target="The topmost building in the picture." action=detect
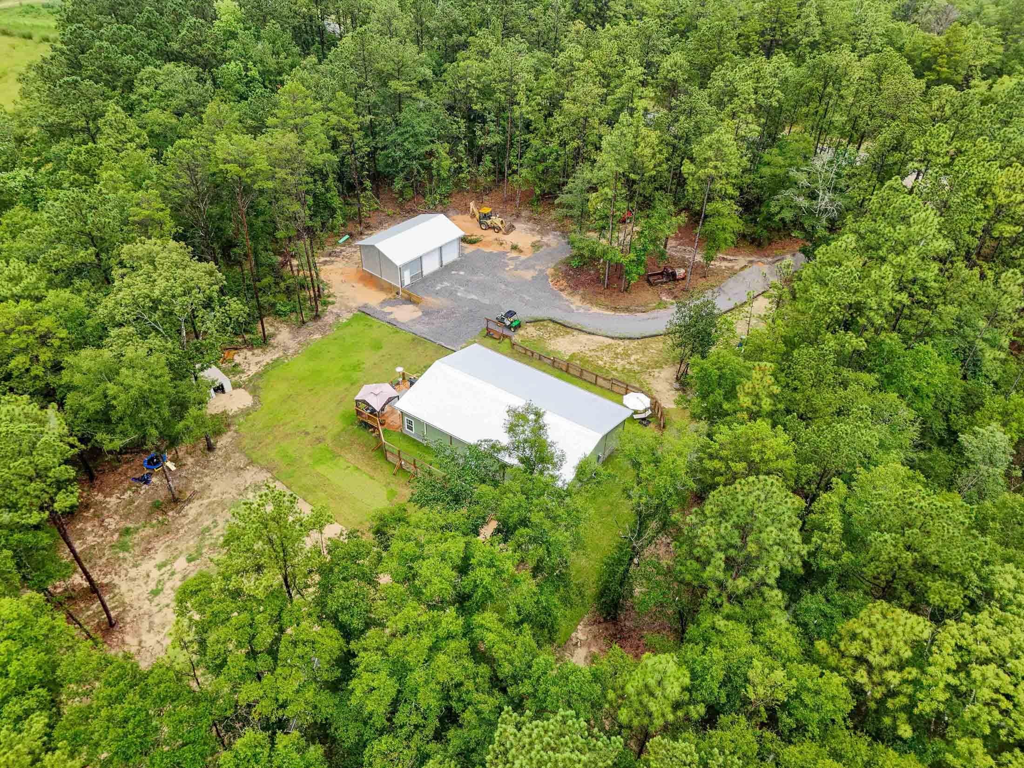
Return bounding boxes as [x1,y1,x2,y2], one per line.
[355,214,465,295]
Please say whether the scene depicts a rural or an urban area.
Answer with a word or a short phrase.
rural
